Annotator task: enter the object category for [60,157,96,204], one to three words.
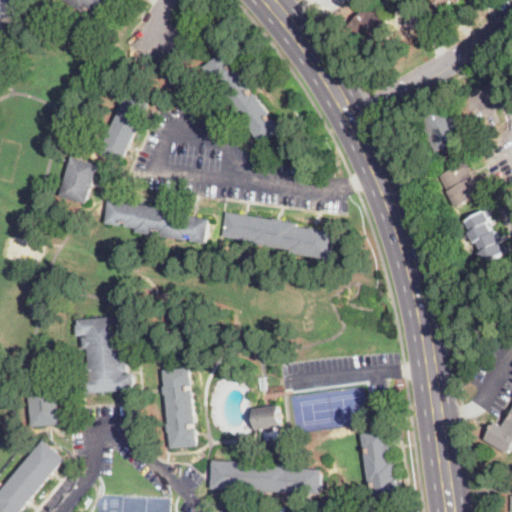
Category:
house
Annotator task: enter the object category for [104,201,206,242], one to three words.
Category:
building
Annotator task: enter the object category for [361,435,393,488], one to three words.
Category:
building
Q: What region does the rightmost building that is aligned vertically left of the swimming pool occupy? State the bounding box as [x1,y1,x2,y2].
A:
[161,369,196,448]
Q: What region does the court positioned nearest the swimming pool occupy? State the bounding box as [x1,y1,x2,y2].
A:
[290,386,370,432]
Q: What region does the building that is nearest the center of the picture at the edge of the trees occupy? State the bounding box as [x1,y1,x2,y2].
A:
[222,213,328,259]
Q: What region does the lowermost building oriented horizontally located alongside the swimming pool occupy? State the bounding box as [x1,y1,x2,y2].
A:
[209,460,321,496]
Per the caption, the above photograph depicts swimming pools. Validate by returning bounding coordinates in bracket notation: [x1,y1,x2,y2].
[211,379,252,435]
